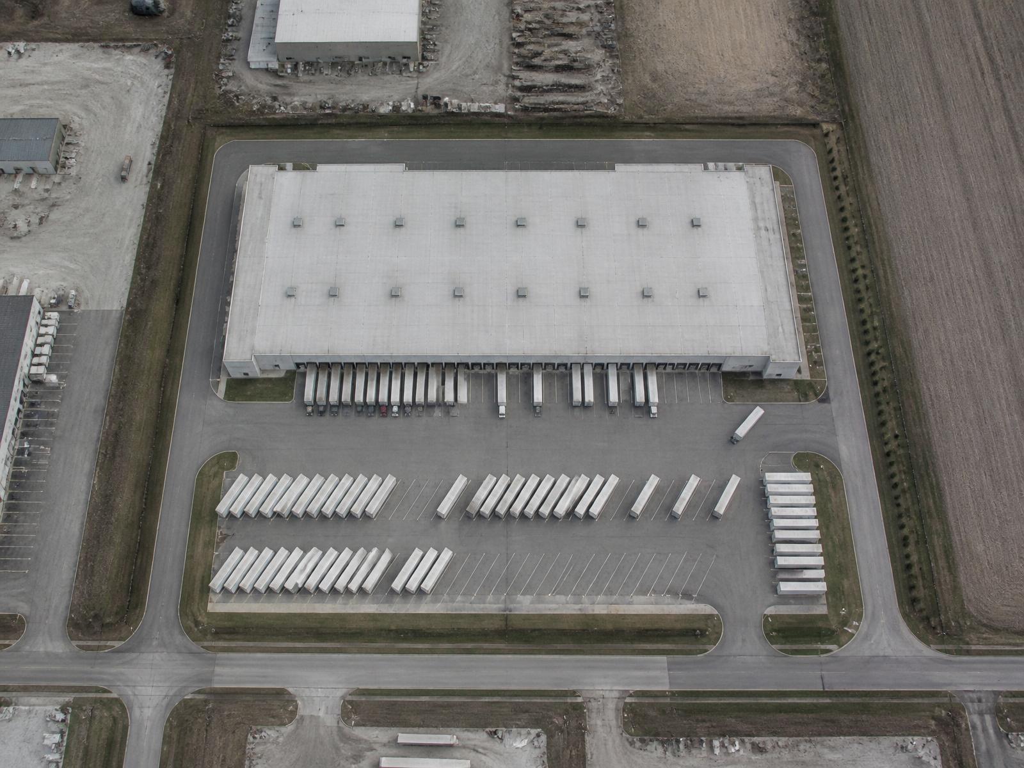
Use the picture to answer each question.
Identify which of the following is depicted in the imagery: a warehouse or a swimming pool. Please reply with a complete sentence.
The one in the frame is a warehouse.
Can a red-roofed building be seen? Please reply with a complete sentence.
No, no red-roofed building is visible in the scene.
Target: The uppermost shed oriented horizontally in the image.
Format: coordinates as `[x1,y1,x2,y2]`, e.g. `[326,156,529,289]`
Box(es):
[271,0,420,62]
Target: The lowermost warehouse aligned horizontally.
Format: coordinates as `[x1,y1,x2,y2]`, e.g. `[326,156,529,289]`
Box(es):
[222,163,801,377]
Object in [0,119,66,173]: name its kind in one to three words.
building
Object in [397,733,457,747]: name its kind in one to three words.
trailer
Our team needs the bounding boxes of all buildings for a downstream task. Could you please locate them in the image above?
[271,0,420,62]
[0,119,66,173]
[222,163,801,377]
[0,295,41,486]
